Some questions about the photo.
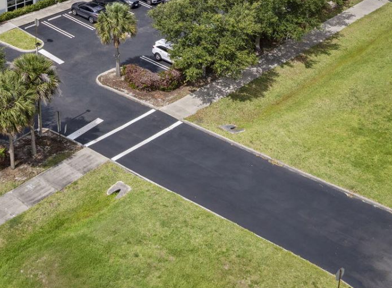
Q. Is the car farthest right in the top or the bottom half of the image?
top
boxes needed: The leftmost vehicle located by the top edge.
[74,1,110,20]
